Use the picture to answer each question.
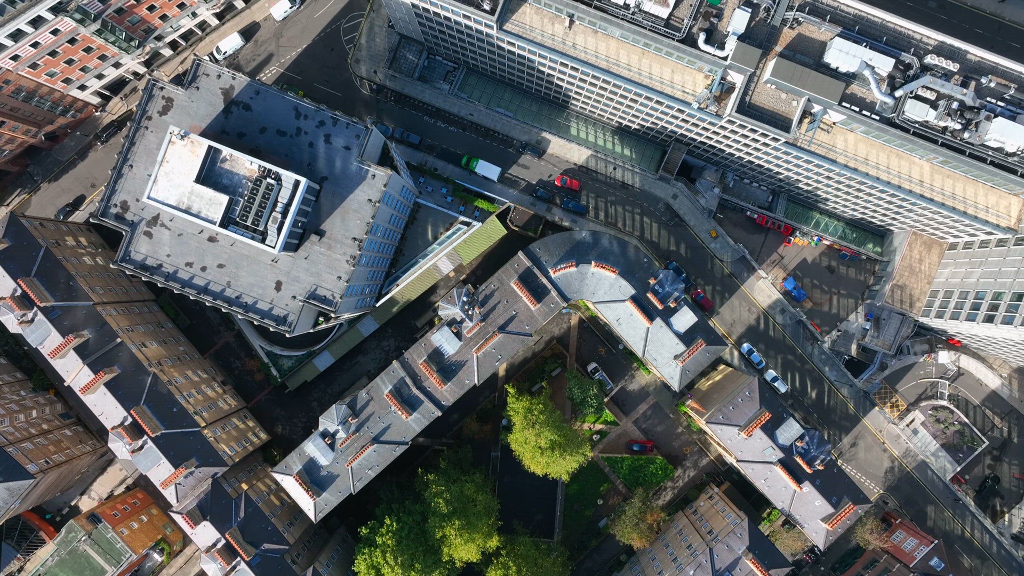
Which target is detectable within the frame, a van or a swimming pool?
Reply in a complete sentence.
Of the two, only a van appears.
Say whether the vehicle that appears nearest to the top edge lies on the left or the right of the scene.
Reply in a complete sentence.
The vehicle that appears nearest to the top edge appears in the left half of the scene.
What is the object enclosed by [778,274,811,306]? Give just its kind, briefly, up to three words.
truck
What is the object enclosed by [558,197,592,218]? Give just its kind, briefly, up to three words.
car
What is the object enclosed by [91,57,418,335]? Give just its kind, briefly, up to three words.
building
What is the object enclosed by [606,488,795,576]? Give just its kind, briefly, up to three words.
building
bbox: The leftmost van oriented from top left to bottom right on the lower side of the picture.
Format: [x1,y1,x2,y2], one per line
[585,360,616,395]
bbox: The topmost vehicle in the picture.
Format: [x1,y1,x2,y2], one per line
[265,0,305,24]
